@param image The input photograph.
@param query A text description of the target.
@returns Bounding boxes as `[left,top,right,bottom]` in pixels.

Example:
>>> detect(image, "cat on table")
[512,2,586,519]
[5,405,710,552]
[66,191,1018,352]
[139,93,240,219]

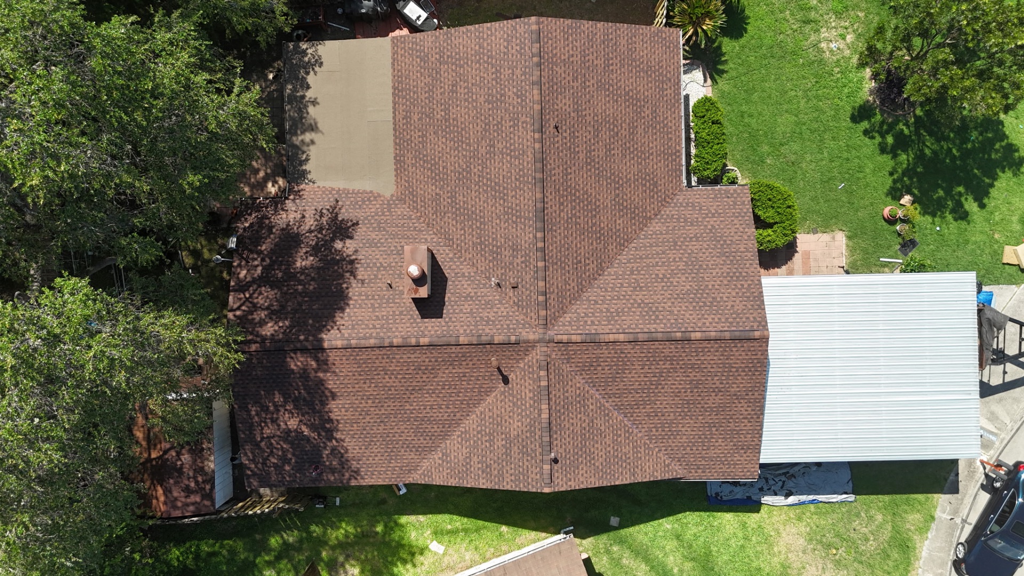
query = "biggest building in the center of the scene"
[226,15,770,495]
